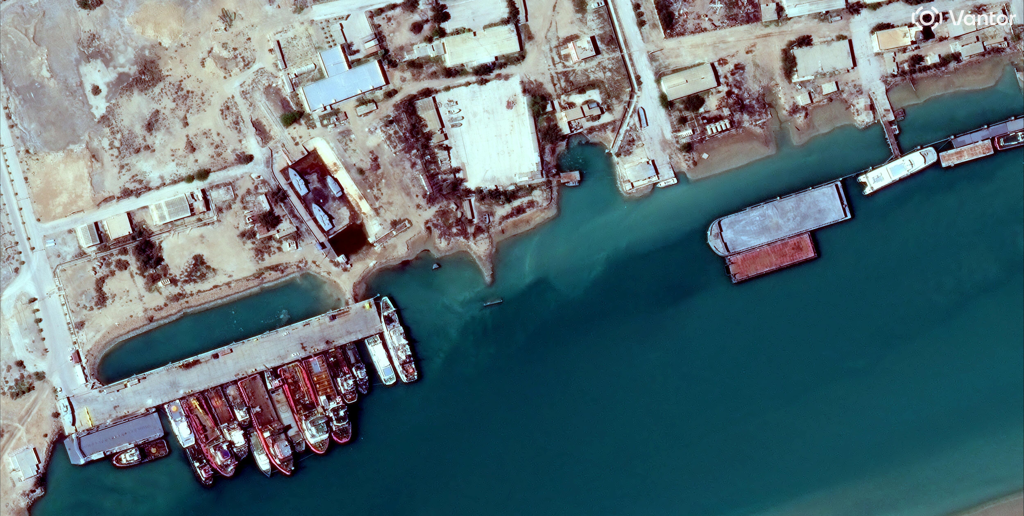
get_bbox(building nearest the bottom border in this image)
[8,448,39,479]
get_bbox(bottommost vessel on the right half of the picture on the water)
[724,232,817,283]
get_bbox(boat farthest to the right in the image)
[994,129,1024,150]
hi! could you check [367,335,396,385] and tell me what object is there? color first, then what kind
white ship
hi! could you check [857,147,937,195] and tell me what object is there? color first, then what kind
white ship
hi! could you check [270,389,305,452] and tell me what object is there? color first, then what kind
gray ship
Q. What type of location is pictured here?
port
